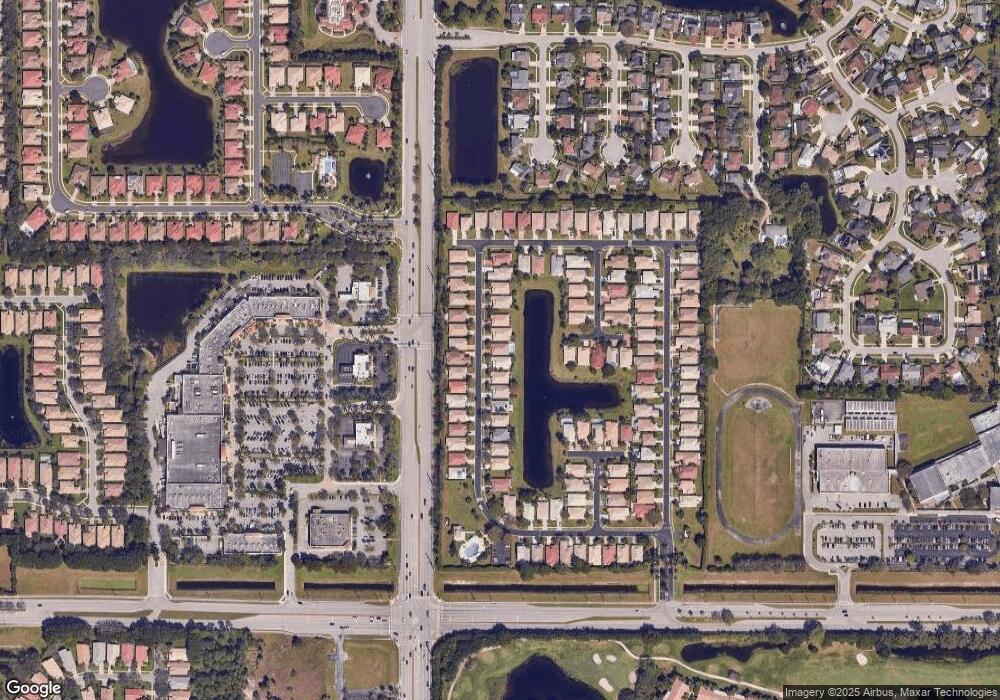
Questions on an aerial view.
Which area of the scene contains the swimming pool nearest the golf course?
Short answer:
bottom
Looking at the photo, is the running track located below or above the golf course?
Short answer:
above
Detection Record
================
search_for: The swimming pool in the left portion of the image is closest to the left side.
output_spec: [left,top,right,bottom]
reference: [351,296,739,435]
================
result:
[319,156,336,179]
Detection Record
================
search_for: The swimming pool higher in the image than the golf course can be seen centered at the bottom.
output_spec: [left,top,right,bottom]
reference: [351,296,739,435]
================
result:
[460,536,485,563]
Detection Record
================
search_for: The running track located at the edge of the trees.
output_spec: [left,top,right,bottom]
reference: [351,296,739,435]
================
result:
[716,383,803,544]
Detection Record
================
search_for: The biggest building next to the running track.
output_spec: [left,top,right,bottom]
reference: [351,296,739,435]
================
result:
[816,447,890,493]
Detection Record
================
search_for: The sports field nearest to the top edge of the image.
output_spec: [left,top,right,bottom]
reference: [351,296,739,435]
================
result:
[718,298,799,392]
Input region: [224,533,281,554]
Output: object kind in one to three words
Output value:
building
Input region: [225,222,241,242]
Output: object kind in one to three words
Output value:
house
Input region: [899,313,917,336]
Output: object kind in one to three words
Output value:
house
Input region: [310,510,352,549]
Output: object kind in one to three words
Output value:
building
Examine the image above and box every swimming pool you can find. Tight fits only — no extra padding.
[319,156,336,179]
[460,536,485,563]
